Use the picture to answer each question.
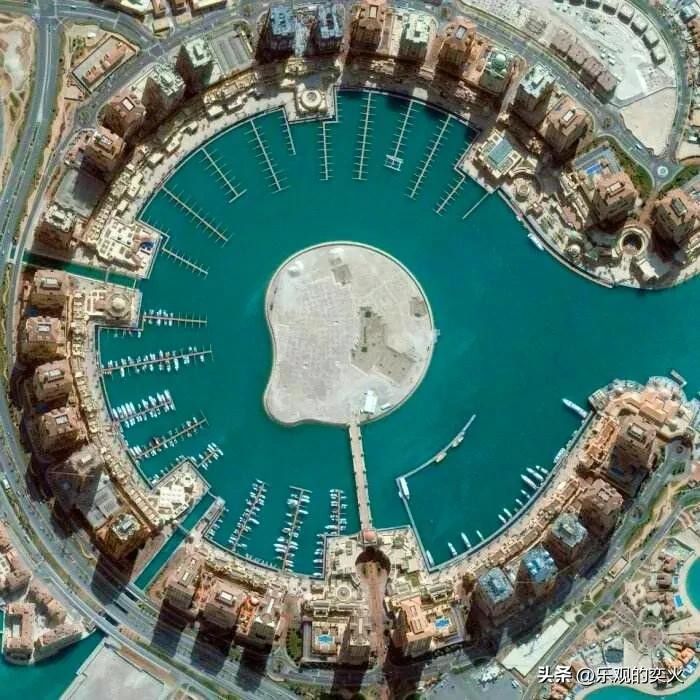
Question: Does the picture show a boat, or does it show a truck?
boat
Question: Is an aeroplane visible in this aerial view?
No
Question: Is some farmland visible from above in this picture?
No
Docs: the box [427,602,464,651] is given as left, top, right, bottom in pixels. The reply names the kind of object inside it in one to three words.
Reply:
building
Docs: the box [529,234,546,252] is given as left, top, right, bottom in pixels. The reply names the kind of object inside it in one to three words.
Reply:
boat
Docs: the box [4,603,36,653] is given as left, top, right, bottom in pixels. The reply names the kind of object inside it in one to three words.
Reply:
building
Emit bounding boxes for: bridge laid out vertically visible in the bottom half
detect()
[347,421,373,532]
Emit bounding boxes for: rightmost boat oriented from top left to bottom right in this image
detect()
[563,400,588,418]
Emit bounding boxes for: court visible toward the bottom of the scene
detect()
[663,537,695,560]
